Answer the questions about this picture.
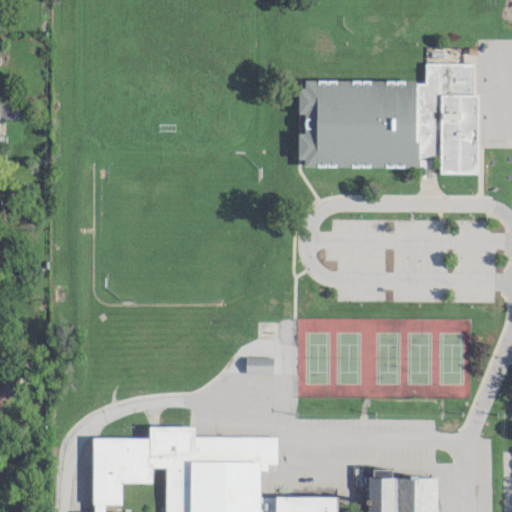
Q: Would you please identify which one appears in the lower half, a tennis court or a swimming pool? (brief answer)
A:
tennis court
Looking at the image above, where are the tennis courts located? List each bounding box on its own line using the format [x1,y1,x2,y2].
[306,332,331,385]
[336,332,362,385]
[407,332,432,385]
[438,332,466,385]
[375,332,401,385]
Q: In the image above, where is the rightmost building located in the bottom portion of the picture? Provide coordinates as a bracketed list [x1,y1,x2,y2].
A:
[366,468,438,512]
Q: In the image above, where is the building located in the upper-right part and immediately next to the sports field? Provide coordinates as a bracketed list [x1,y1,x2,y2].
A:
[300,64,479,176]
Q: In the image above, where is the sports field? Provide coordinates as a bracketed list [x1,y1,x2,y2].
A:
[97,112,286,303]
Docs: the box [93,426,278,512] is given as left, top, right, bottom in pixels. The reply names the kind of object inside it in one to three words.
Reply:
building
